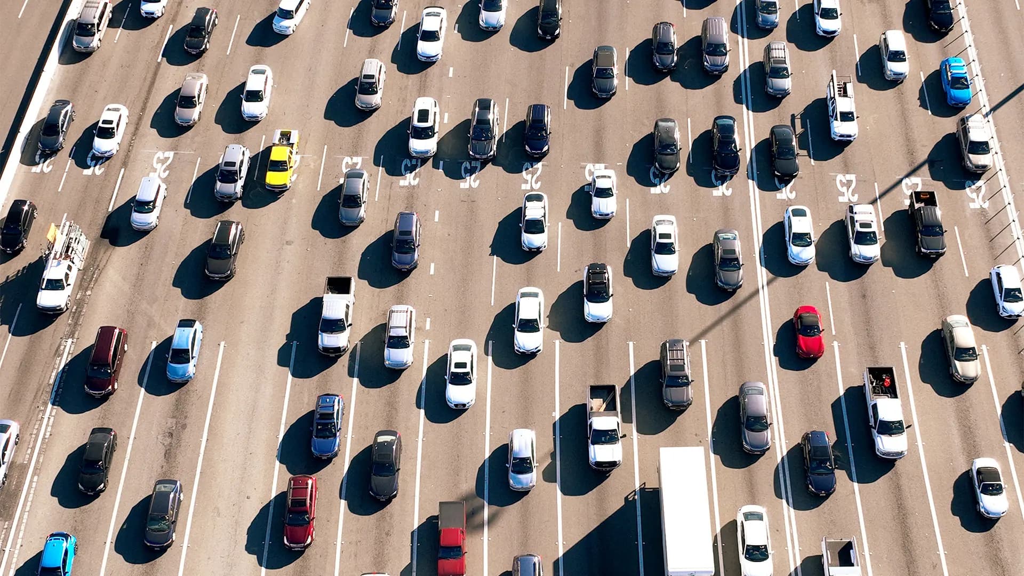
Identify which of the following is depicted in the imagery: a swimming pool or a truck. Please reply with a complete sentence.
There is a truck in the scene.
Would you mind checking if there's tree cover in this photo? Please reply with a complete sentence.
No, the scene doesn't show any tree cover.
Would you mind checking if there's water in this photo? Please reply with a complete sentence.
No, there's no water in this view.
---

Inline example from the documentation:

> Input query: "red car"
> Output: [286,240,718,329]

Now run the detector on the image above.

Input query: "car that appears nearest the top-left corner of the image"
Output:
[73,0,111,54]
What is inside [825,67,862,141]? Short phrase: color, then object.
white truck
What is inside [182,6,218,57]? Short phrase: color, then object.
black car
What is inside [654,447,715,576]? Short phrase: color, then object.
white truck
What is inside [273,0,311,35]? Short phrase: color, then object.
white car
